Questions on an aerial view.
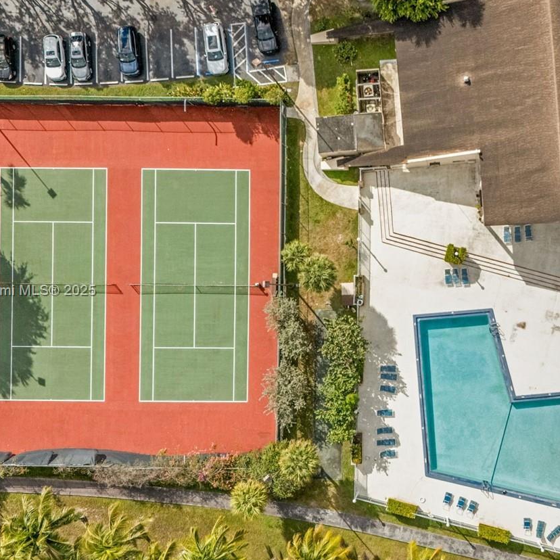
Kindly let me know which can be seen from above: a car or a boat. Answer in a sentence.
The image shows a car.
